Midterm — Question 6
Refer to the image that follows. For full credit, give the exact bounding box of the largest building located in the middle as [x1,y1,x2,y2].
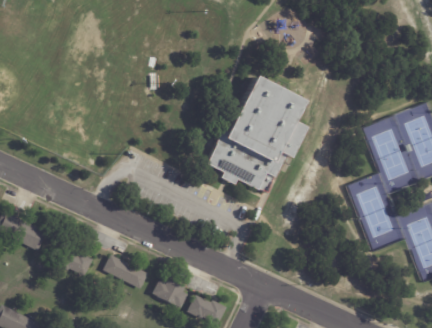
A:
[211,75,310,190]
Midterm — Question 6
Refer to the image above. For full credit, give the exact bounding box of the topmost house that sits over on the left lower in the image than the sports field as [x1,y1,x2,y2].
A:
[0,211,42,252]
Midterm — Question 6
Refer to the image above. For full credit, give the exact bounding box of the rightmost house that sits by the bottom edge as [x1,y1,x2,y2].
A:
[186,292,228,322]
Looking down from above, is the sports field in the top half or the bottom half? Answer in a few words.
top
